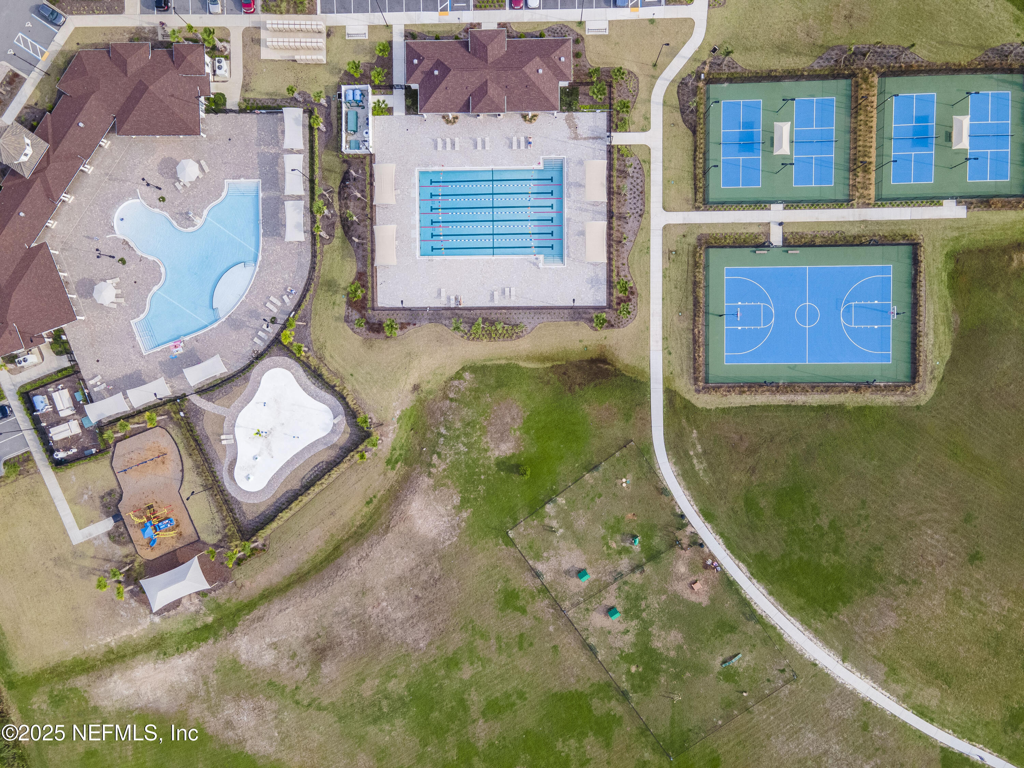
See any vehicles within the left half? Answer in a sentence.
Yes, within the left half there is a vehicle.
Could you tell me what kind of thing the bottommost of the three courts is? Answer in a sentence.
I'd identify the bottommost of the three courts as a basketball court.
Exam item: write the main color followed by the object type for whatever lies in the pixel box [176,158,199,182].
white umbrella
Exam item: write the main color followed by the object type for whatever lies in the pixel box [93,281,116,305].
white umbrella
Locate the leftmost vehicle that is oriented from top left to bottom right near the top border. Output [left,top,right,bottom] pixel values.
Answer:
[32,1,63,25]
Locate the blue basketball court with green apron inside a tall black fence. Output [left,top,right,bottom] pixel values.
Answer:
[705,245,913,383]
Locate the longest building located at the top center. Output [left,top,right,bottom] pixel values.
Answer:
[404,28,573,118]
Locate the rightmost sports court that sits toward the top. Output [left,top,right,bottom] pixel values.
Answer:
[875,74,1024,201]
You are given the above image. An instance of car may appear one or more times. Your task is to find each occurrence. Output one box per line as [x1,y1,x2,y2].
[527,0,539,7]
[239,0,255,12]
[615,0,628,6]
[152,0,169,9]
[0,406,11,419]
[206,0,221,13]
[32,1,63,25]
[511,0,523,7]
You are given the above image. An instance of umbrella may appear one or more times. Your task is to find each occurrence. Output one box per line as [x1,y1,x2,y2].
[93,281,116,305]
[176,158,199,182]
